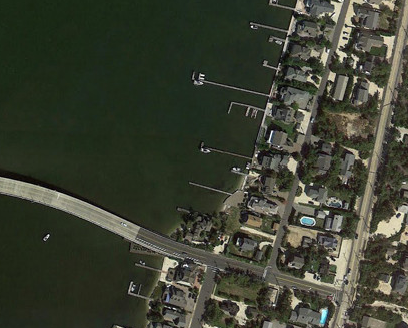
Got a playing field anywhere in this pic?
No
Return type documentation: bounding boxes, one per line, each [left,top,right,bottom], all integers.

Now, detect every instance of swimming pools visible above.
[325,195,342,208]
[301,216,316,226]
[320,308,328,324]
